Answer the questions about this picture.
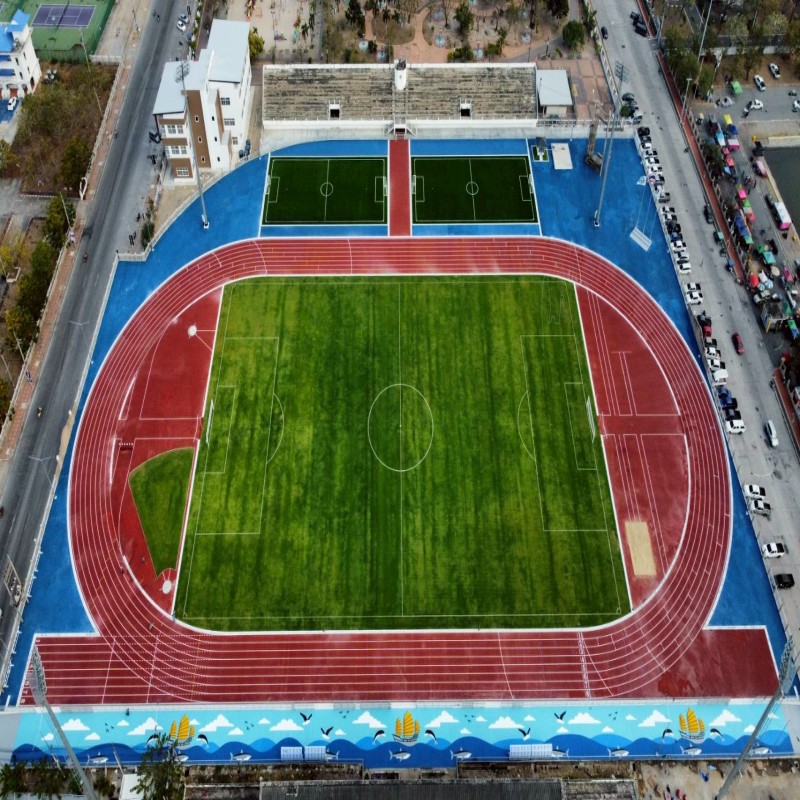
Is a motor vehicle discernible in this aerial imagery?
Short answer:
Yes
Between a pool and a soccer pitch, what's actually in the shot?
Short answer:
soccer pitch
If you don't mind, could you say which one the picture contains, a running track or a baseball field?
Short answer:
running track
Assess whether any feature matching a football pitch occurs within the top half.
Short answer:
Yes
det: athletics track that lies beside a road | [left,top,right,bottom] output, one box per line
[20,238,784,703]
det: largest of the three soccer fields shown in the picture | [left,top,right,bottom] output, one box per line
[172,275,634,629]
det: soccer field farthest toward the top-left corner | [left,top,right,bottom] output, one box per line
[256,143,389,237]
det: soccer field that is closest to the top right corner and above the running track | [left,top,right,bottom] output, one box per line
[409,138,541,236]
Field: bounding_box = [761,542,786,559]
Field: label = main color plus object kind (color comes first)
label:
white vehicle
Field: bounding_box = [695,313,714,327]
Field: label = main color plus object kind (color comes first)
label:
black vehicle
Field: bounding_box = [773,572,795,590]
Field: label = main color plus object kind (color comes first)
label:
black car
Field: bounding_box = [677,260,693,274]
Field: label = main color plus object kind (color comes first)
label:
white car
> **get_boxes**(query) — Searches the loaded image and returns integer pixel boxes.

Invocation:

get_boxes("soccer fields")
[256,143,389,237]
[409,138,541,236]
[172,275,634,629]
